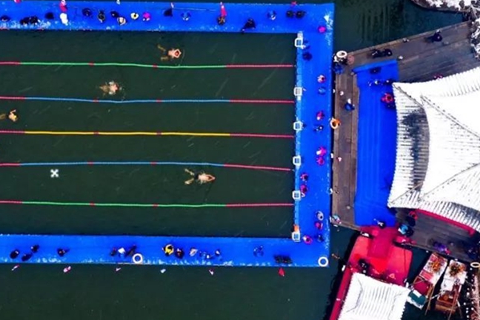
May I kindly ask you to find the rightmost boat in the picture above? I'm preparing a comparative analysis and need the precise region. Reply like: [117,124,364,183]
[434,257,467,320]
